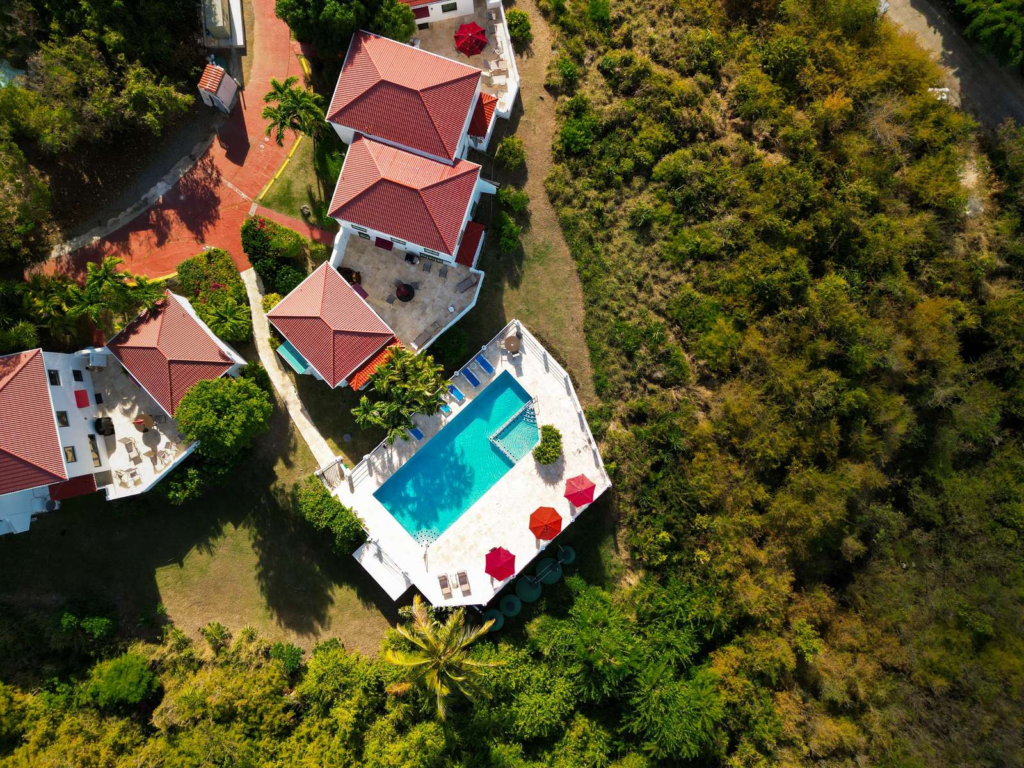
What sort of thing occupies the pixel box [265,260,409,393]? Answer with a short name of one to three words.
building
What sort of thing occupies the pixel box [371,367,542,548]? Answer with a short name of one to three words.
swimming pool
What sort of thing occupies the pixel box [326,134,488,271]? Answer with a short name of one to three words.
house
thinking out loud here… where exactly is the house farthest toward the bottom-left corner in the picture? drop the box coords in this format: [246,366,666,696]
[0,347,112,534]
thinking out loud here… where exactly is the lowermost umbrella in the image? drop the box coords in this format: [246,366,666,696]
[485,546,515,581]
